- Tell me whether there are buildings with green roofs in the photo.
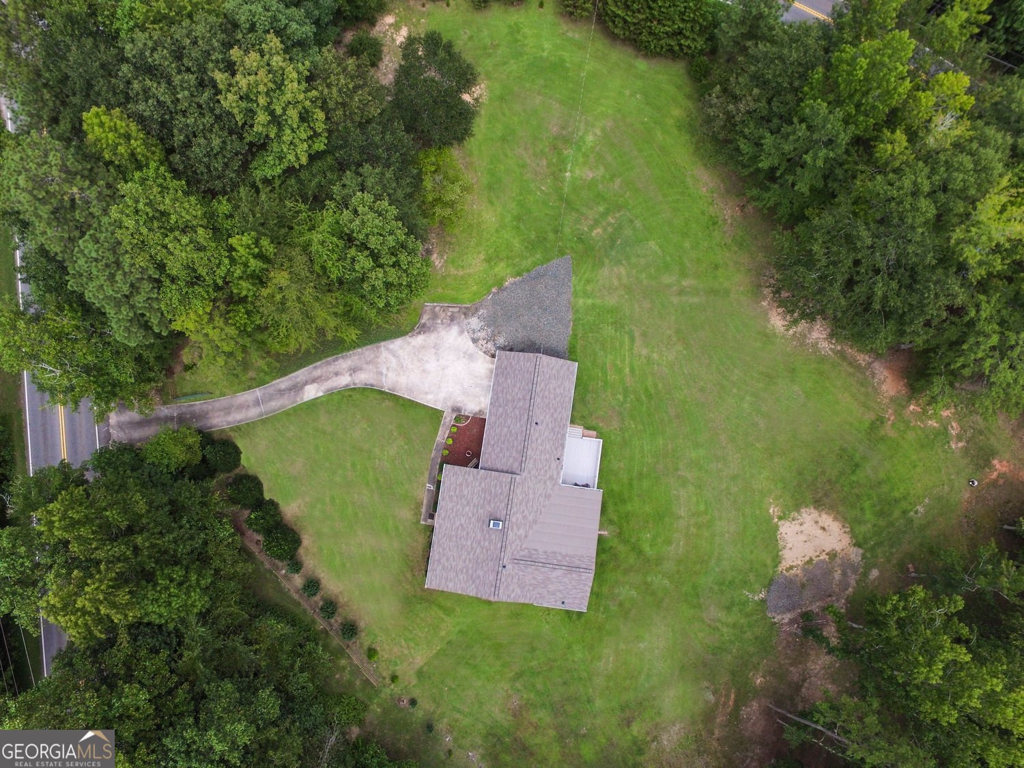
No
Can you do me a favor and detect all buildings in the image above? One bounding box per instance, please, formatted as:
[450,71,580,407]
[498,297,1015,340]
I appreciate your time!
[424,351,603,614]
